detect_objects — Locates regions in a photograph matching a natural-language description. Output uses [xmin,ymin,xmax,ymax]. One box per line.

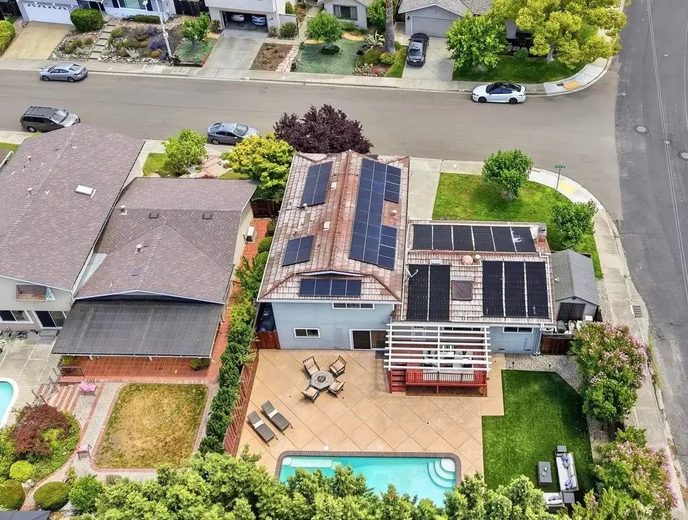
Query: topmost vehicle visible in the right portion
[405,30,429,62]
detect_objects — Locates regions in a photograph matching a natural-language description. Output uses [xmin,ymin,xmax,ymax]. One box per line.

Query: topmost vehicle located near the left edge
[32,59,90,83]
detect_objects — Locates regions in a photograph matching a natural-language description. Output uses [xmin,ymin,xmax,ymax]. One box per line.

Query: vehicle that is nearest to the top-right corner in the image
[471,80,527,104]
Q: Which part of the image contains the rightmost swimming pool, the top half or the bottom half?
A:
bottom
